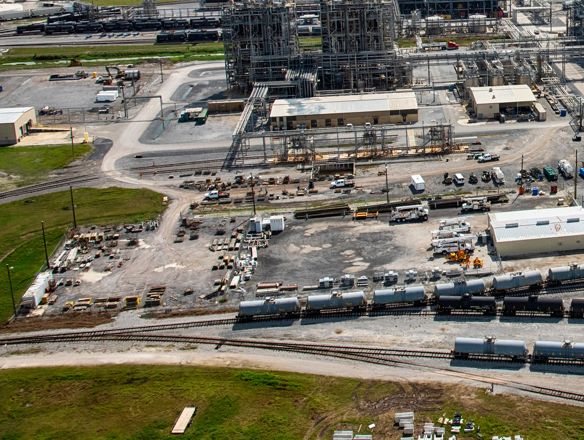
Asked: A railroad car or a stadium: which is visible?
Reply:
railroad car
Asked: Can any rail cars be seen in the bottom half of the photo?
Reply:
Yes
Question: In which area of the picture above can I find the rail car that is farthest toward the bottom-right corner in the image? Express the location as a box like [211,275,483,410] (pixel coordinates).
[528,329,584,364]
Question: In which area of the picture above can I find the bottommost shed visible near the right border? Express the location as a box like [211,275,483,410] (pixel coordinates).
[486,204,584,257]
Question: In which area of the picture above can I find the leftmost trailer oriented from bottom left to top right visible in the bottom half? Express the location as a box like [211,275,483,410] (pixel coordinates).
[15,262,58,300]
